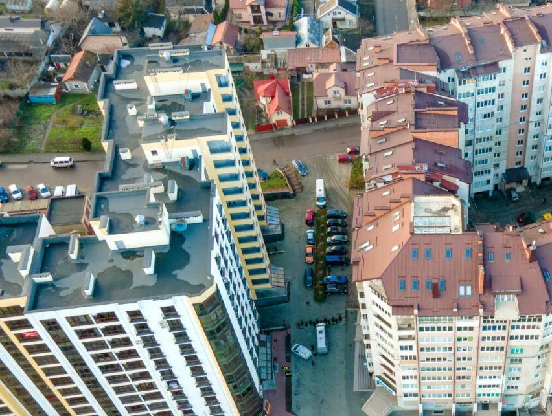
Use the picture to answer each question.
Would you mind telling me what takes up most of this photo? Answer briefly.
buildings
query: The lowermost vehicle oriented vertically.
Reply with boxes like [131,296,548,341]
[312,324,329,353]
